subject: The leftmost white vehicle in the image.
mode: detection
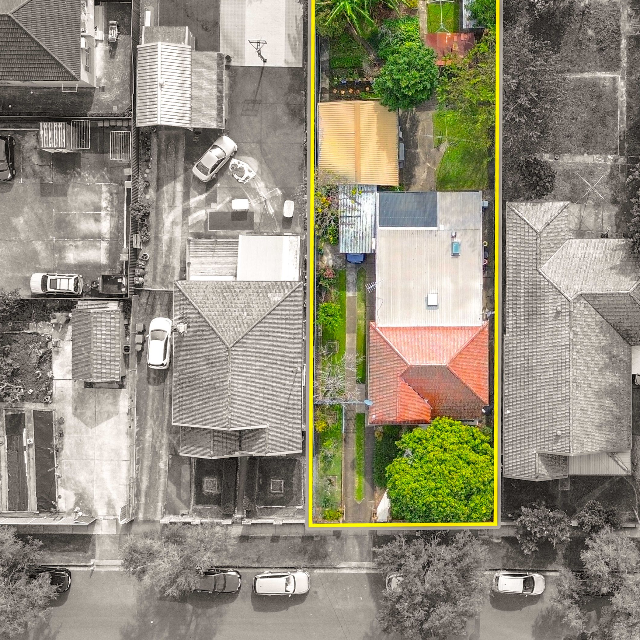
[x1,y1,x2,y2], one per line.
[27,270,87,298]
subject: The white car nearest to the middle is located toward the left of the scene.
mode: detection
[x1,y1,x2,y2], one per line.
[145,316,172,370]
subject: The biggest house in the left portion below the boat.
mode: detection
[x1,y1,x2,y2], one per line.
[171,280,303,459]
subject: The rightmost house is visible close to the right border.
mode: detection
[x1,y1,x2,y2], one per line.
[502,200,640,480]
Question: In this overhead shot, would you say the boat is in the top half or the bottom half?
top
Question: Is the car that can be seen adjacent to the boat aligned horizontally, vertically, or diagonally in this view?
diagonally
